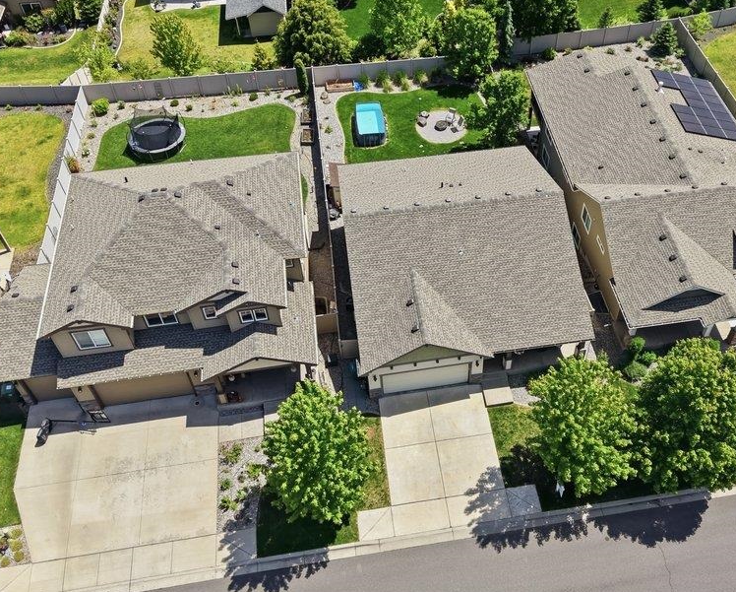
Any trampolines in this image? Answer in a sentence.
Yes, looking at the shot, I can spot a trampoline.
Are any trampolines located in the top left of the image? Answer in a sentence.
Yes, I can see a trampoline in the top left of the image.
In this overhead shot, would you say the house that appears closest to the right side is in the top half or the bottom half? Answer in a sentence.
The house that appears closest to the right side is in the top half of the image.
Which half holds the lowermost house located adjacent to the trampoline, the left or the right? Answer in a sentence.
The lowermost house located adjacent to the trampoline appears in the left half of the scene.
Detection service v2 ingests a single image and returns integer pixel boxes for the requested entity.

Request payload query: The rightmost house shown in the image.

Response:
[525,50,736,358]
